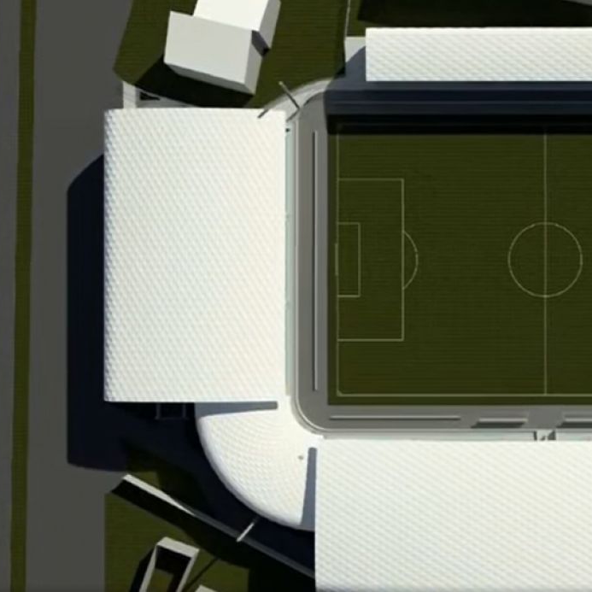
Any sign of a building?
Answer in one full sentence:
Yes, a building appears in the view.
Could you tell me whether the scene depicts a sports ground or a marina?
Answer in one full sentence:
The picture captures a sports ground.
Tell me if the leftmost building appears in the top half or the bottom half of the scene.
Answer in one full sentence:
It is in the bottom half that the leftmost building appears.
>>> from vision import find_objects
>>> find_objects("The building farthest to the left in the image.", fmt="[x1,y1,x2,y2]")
[140,536,200,592]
